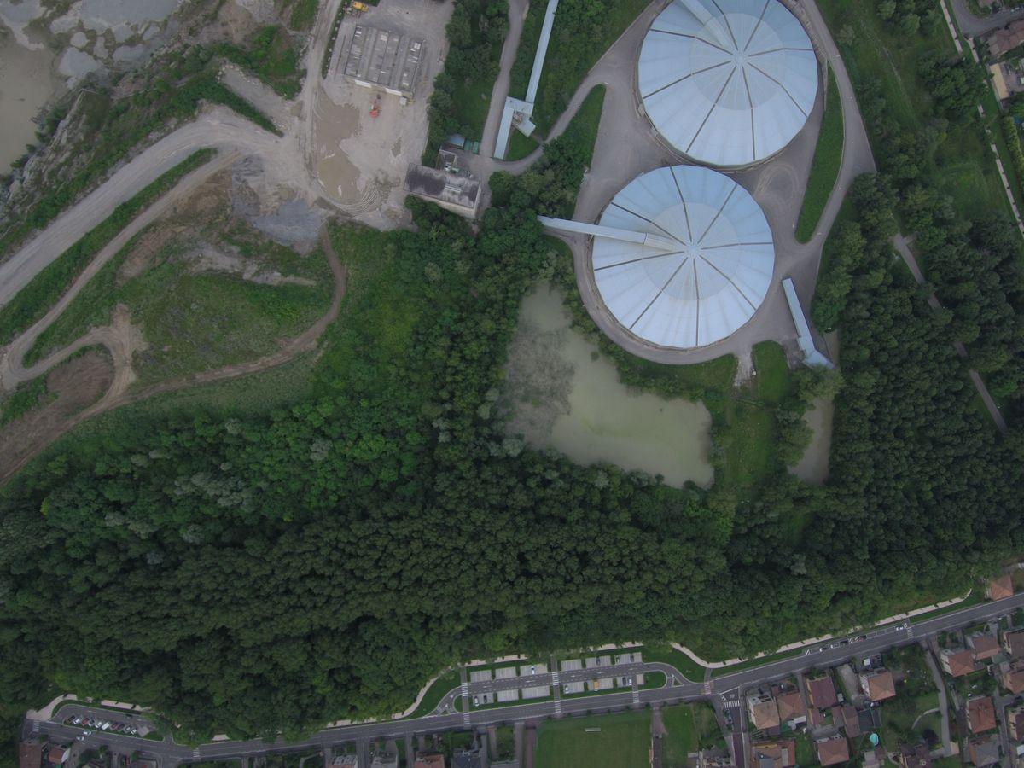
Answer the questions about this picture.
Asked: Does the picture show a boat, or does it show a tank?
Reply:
tank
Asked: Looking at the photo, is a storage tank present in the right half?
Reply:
Yes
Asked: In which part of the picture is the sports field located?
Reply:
bottom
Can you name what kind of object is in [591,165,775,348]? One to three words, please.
storage tank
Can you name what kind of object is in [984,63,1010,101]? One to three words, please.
building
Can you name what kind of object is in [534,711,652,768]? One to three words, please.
sports field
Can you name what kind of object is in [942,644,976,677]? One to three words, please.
house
